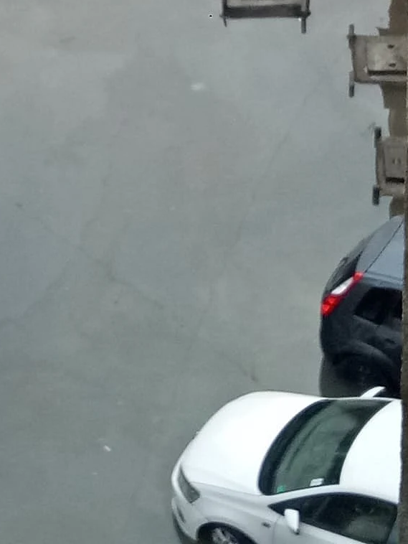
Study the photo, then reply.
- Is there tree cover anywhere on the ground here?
No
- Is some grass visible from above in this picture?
No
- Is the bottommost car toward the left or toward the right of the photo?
right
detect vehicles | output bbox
[168,388,400,544]
[324,221,404,398]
